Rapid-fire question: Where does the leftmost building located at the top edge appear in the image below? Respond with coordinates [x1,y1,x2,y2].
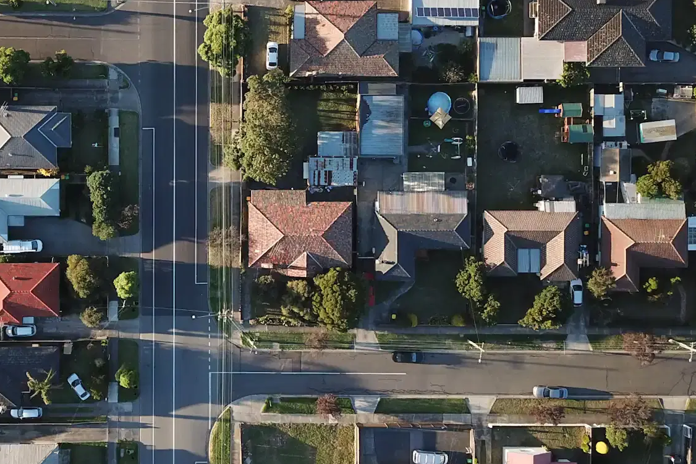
[288,0,411,78]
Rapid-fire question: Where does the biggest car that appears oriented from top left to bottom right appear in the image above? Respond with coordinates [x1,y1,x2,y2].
[66,370,91,404]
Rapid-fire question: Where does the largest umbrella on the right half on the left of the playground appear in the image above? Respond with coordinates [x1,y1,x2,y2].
[427,108,449,131]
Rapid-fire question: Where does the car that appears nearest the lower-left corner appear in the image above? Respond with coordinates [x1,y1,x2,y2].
[10,405,44,421]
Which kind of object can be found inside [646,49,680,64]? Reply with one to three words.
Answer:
car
